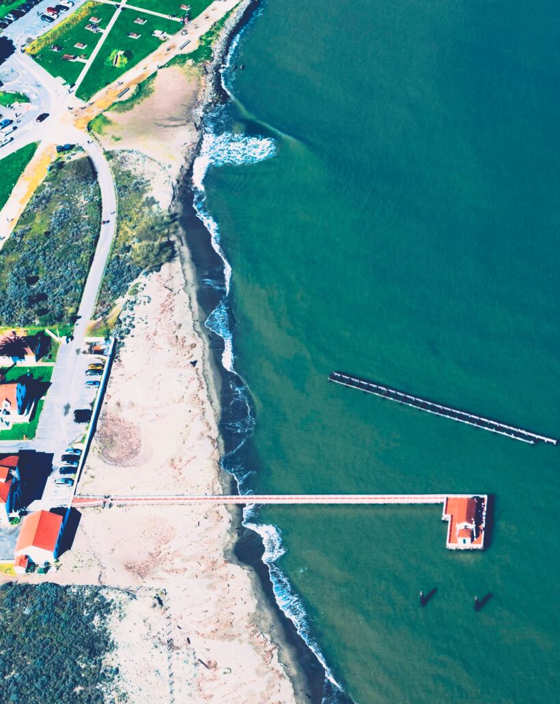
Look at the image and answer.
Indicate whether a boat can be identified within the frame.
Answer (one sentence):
No, the scene contains no boat.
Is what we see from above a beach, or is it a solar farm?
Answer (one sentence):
What you see here is a beach.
